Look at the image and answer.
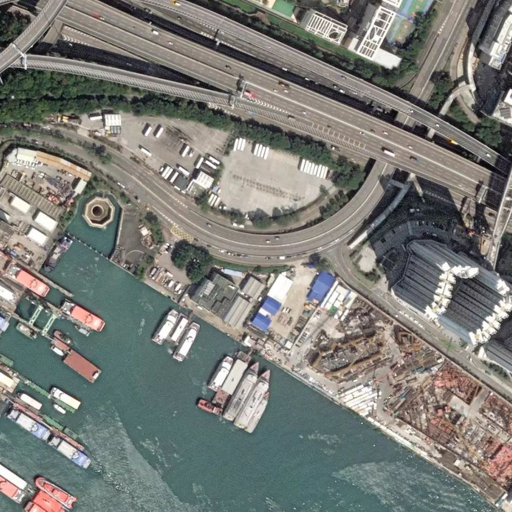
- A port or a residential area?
port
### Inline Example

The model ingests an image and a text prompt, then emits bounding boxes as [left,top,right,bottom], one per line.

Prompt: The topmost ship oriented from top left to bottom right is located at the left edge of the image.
[6,266,50,298]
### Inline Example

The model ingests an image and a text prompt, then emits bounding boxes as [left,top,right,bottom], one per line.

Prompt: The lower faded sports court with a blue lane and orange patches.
[386,16,416,45]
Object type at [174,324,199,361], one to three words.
ship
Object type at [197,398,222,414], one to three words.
boat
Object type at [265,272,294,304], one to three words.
shed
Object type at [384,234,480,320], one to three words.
building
